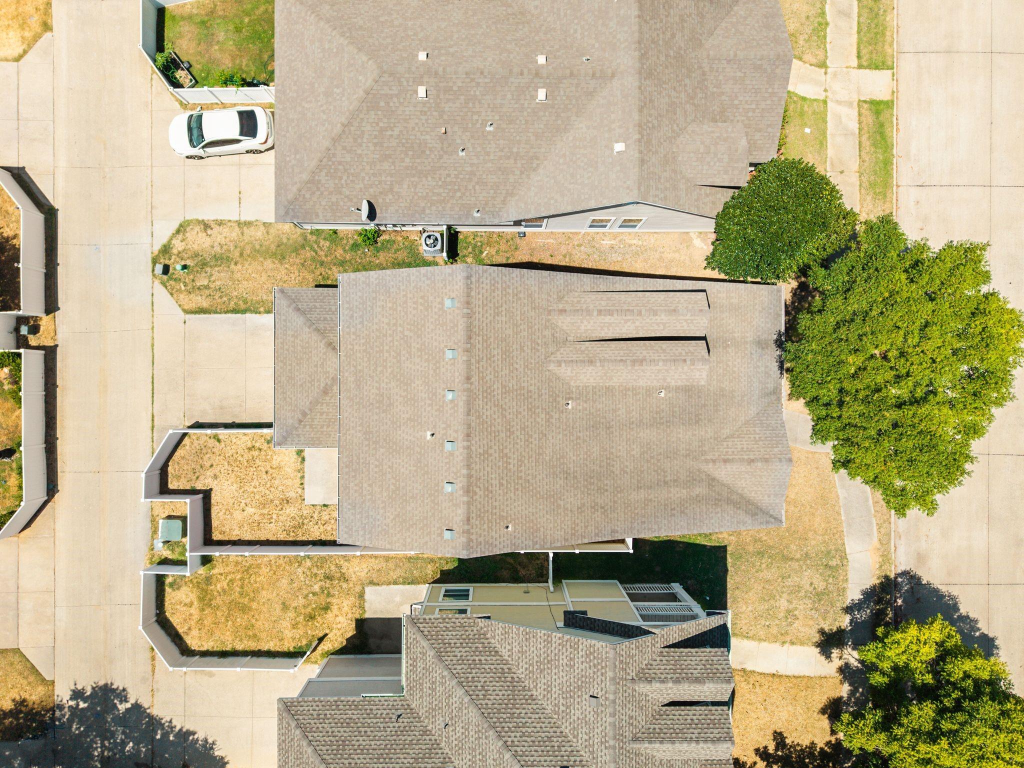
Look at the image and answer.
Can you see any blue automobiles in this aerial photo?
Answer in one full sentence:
No, no blue automobile is visible in the view.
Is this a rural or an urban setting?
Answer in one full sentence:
The area shown here is urban.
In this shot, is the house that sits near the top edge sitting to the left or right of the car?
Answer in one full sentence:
You can see the house that sits near the top edge positioned to the right of the car.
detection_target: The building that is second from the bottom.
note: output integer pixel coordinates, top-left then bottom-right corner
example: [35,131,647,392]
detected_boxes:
[273,264,794,559]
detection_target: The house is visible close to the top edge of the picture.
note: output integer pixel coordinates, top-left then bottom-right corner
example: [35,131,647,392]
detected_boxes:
[273,0,794,233]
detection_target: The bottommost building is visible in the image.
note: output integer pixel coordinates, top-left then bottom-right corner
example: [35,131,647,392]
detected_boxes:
[275,578,735,768]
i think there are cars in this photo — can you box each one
[168,109,274,162]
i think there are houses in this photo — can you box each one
[275,578,735,768]
[273,0,794,233]
[273,264,794,559]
